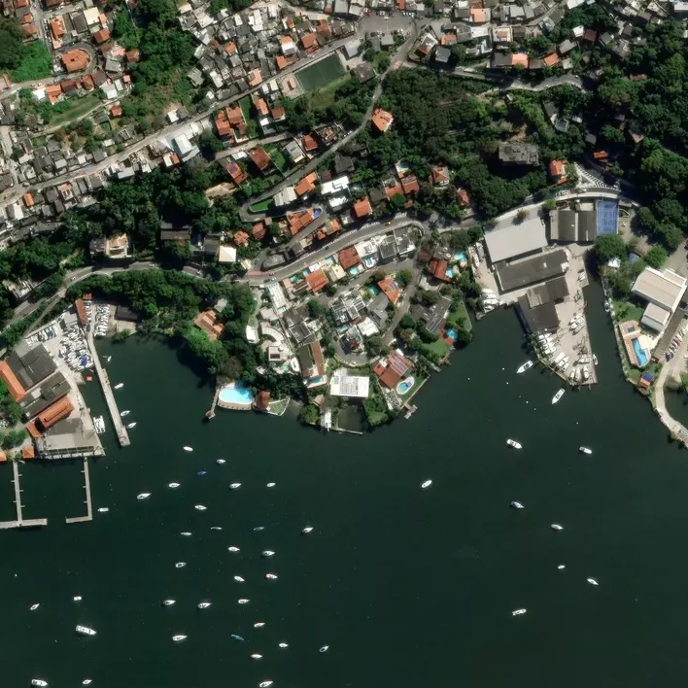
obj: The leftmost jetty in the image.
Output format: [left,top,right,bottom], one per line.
[0,460,47,529]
